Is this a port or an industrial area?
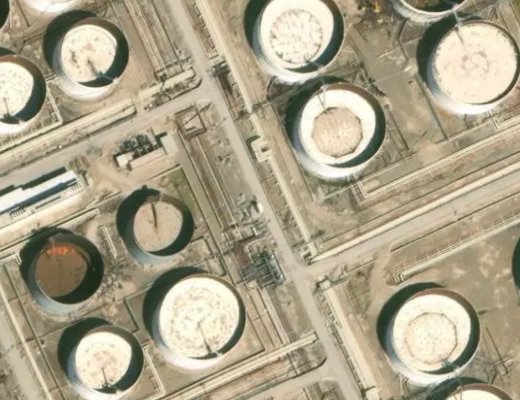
industrial area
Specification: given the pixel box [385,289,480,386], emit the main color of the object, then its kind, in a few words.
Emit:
white storage tank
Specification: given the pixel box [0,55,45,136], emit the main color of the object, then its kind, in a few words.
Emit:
white storage tank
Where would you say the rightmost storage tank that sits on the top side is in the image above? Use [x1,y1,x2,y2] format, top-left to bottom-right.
[429,21,520,115]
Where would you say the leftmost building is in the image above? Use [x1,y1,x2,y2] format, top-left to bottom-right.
[0,171,76,216]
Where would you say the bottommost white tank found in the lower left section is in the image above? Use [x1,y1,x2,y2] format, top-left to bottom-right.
[67,326,144,400]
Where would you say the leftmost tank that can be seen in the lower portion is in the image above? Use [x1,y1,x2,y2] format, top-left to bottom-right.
[27,235,105,315]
